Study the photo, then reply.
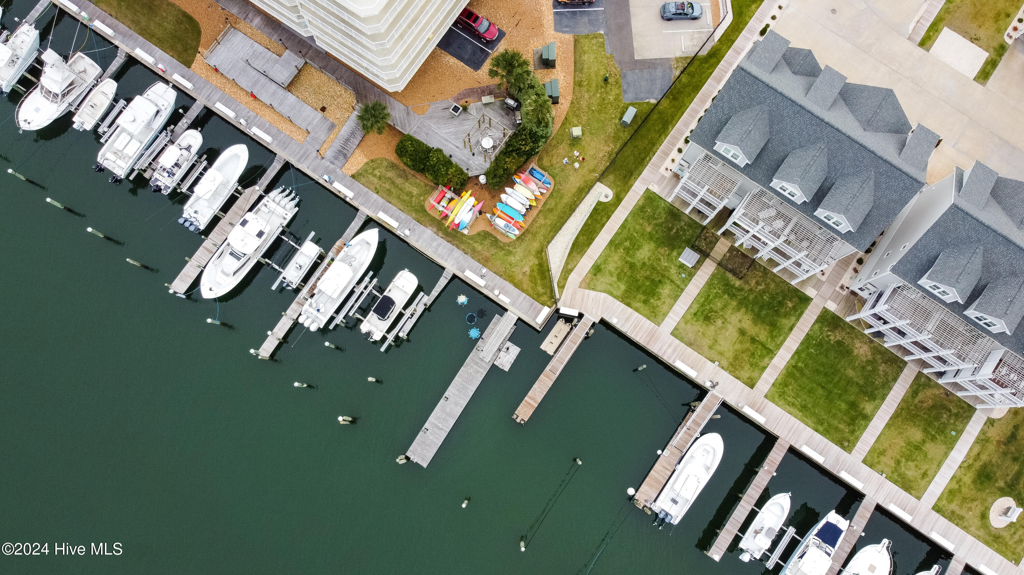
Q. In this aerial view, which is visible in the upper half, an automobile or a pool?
automobile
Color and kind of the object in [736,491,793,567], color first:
white boat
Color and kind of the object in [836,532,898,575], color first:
white boat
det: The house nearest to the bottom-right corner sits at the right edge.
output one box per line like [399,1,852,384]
[847,156,1024,419]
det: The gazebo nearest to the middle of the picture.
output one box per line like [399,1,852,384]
[463,106,512,165]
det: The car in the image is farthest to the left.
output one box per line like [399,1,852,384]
[455,7,498,43]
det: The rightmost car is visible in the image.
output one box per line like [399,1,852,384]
[661,0,702,22]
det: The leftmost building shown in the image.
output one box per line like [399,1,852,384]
[249,0,472,93]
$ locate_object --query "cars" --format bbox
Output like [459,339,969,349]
[553,0,597,6]
[455,7,498,43]
[661,0,702,22]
